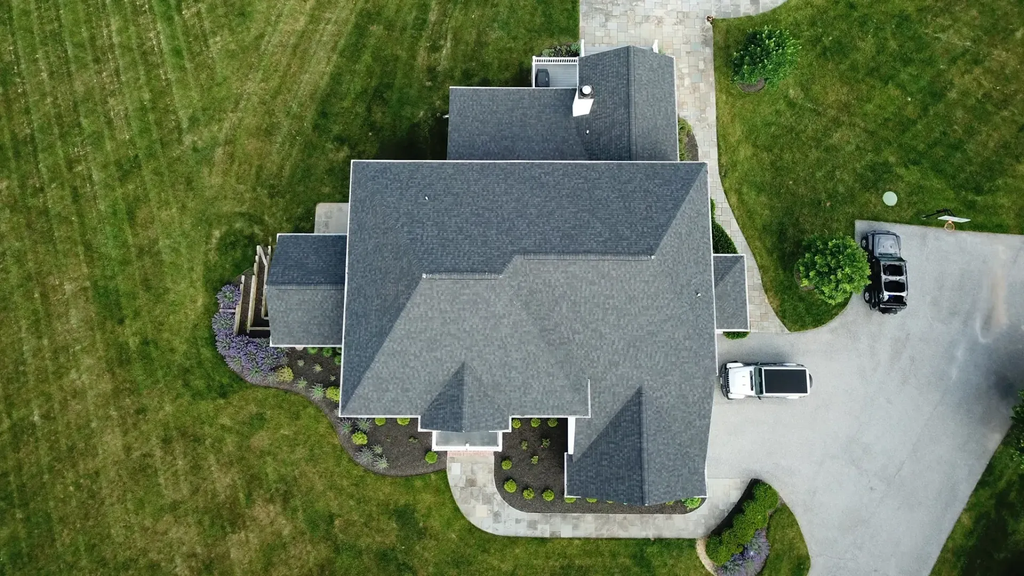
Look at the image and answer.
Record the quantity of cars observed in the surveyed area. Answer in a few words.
two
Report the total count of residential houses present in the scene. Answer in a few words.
one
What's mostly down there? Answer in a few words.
grass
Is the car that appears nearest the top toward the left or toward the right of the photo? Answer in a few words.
right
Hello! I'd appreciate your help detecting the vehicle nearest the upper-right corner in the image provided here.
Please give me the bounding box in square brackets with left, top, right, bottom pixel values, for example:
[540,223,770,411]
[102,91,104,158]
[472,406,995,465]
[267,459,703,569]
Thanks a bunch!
[859,229,910,313]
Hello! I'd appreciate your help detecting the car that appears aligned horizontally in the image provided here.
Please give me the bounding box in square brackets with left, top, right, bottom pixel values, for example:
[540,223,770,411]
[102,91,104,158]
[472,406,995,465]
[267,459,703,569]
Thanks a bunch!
[718,359,813,399]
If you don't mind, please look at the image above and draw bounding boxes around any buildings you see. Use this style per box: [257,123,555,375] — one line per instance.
[266,39,749,506]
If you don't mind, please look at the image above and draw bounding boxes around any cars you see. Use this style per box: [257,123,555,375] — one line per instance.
[859,229,910,313]
[718,359,813,399]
